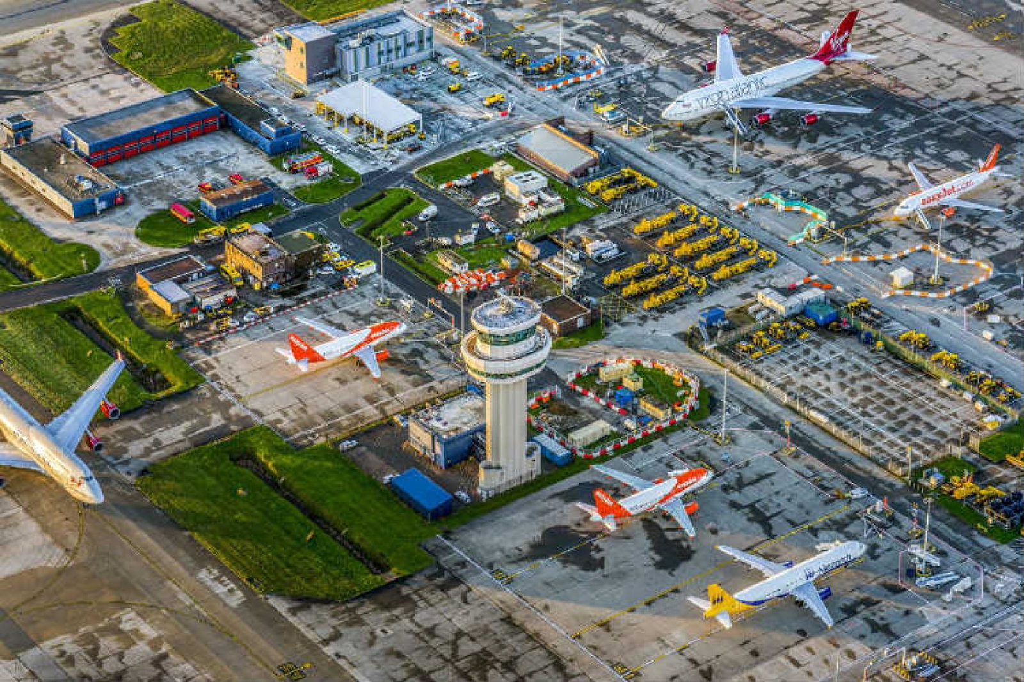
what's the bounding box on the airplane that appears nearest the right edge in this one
[895,147,1012,220]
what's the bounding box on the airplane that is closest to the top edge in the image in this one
[661,6,888,129]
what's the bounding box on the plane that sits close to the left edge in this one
[0,343,130,506]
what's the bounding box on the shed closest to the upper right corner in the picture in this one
[890,268,913,290]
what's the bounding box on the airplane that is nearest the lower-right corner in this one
[684,540,866,626]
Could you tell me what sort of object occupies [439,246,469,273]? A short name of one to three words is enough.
shed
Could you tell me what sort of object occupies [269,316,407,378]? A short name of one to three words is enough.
airplane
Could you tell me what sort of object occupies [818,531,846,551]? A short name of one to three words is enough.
vehicle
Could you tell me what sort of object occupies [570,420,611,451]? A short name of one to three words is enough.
shipping container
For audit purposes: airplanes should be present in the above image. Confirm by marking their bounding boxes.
[0,343,130,506]
[569,464,714,539]
[661,6,888,129]
[269,316,407,378]
[895,147,1012,220]
[684,540,866,626]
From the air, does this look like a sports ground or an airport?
airport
